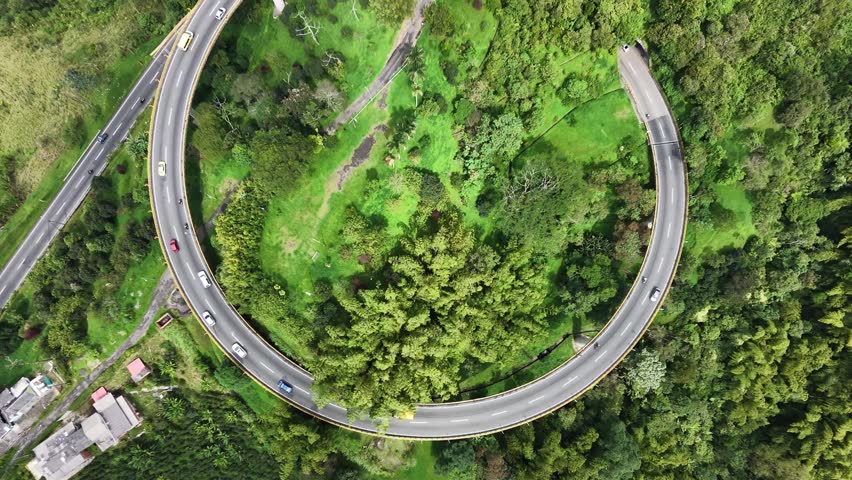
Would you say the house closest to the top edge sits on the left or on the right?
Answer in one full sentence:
The house closest to the top edge sits on the left side.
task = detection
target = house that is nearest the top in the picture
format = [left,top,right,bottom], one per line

[126,356,153,383]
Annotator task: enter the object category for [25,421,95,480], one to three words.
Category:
house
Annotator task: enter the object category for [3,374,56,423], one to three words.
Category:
house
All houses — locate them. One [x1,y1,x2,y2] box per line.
[3,374,56,423]
[92,386,142,439]
[25,421,95,480]
[126,356,153,383]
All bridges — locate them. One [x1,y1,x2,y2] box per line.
[142,0,692,444]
